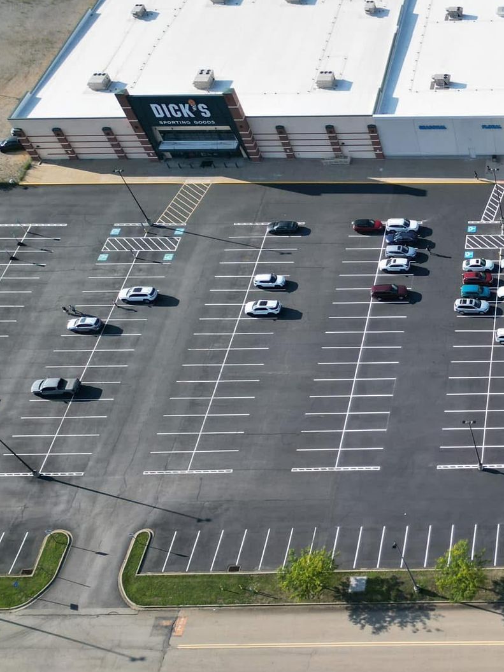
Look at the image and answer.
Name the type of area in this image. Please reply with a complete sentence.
What you see here is a parking lot.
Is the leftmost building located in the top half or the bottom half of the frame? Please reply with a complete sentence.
The leftmost building is in the top half of the image.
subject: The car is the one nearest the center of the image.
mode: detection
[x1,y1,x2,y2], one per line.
[244,301,282,317]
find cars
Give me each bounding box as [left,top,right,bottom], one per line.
[385,245,417,260]
[494,328,504,345]
[460,284,491,300]
[497,288,504,301]
[66,317,104,334]
[454,298,490,316]
[268,221,300,236]
[370,284,408,302]
[244,301,282,317]
[386,232,418,247]
[352,221,383,234]
[461,272,494,286]
[119,288,158,304]
[462,260,494,273]
[0,137,26,155]
[379,259,411,275]
[386,218,419,234]
[253,275,287,290]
